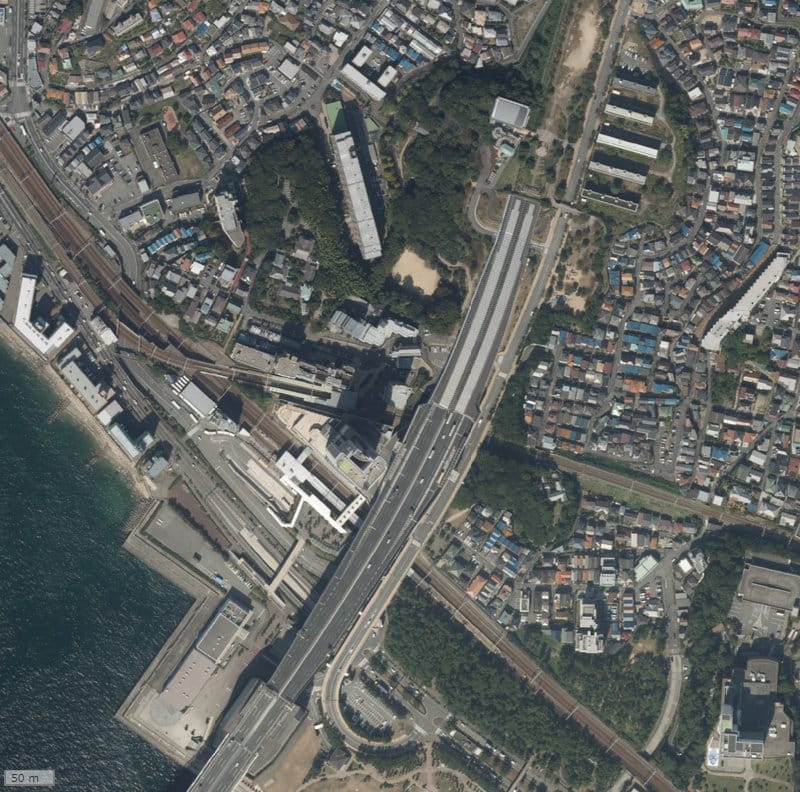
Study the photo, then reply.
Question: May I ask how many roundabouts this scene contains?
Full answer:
The count comes to 1 roundabout.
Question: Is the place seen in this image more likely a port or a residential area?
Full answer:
The area seen from above is a residential area.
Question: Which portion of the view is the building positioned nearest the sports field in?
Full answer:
The building positioned nearest the sports field is located in the top region of the scene.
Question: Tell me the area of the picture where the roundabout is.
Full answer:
You can find the roundabout in the bottom area of the picture.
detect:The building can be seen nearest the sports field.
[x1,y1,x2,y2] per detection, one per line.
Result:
[332,130,384,262]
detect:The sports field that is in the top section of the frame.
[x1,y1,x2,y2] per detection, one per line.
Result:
[392,247,438,294]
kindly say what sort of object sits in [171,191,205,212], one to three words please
building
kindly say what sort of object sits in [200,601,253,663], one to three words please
building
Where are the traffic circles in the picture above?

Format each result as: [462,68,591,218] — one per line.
[398,690,454,742]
